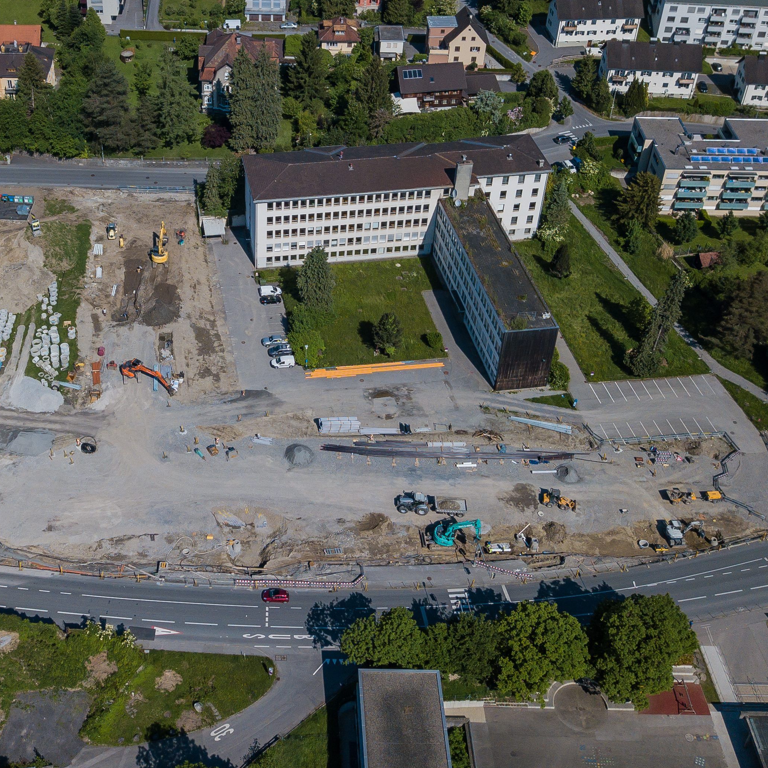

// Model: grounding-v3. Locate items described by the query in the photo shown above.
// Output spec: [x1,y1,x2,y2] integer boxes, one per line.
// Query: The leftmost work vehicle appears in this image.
[105,223,118,243]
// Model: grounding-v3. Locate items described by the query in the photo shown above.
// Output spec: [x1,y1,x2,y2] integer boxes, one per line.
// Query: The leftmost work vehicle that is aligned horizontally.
[120,356,180,392]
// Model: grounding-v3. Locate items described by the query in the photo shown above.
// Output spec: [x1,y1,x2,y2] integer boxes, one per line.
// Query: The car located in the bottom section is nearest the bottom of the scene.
[261,588,290,604]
